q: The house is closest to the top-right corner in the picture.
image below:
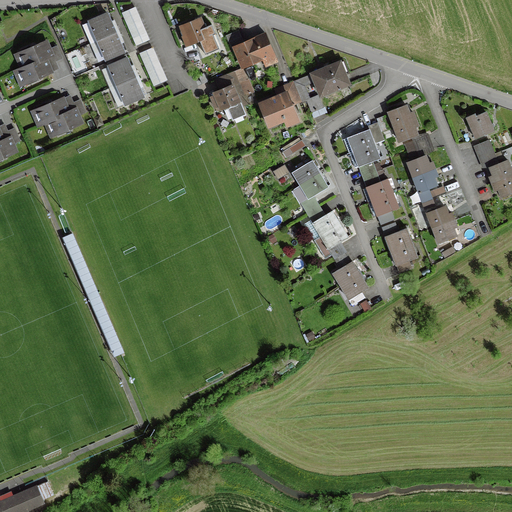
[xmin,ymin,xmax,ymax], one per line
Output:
[466,109,494,139]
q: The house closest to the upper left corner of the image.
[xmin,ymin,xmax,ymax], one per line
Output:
[14,40,62,86]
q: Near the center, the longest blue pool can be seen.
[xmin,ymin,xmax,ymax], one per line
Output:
[266,215,282,230]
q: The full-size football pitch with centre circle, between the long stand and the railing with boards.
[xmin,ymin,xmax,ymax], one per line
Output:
[0,178,136,478]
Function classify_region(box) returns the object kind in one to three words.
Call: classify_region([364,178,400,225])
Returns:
house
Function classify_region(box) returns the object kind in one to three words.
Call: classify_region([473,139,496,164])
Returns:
building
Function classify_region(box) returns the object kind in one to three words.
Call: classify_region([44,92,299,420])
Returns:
soccer field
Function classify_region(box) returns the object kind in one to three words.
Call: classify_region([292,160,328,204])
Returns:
house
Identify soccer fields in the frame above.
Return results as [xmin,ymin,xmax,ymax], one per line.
[0,178,136,478]
[44,92,299,420]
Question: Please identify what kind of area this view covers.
sports ground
